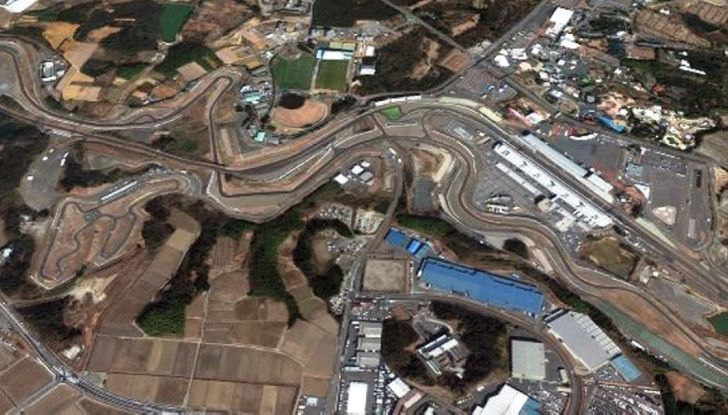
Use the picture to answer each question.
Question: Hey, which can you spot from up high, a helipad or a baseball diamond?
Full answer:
The one in the frame is a baseball diamond.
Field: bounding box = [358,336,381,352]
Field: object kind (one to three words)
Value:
building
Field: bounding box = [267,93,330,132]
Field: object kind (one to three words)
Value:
baseball field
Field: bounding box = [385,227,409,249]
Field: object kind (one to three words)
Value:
building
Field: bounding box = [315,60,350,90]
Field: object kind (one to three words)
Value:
soccer field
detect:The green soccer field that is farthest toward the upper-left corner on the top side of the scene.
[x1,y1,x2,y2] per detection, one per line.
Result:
[275,55,313,90]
